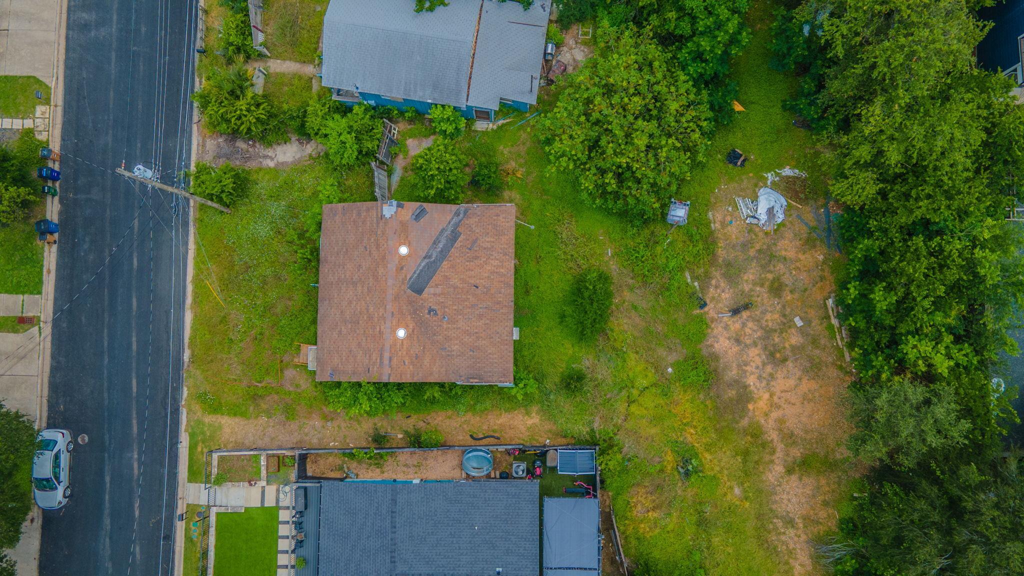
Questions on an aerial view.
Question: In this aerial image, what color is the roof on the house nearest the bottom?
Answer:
blue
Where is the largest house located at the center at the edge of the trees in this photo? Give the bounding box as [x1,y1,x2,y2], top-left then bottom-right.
[311,200,535,386]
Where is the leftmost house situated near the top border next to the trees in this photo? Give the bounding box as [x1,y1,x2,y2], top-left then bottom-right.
[316,0,550,134]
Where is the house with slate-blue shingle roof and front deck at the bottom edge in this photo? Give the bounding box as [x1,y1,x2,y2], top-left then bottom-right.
[316,477,542,576]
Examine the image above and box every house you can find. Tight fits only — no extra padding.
[311,200,535,386]
[316,0,550,134]
[316,477,542,576]
[949,0,1024,105]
